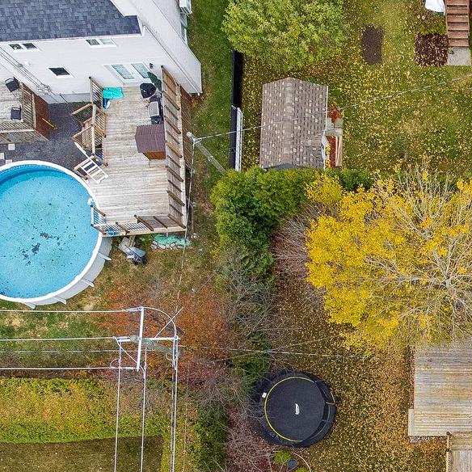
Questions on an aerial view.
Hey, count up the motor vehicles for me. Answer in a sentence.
There are no motor vehicles in the image.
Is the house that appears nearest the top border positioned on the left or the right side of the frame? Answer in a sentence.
You can find the house that appears nearest the top border on the left side of the picture.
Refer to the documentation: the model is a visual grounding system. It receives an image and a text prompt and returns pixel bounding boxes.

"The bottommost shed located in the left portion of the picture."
[134,129,167,160]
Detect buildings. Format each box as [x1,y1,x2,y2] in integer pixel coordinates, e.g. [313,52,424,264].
[134,129,167,160]
[0,0,200,103]
[259,76,330,175]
